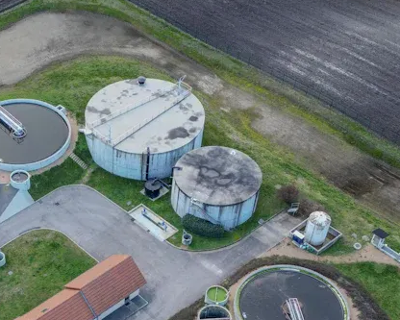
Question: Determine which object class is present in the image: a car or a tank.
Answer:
tank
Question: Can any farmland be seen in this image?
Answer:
Yes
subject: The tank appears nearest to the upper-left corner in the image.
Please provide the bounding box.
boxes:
[0,99,71,171]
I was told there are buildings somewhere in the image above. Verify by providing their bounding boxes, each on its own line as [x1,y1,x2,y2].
[12,255,150,320]
[372,230,390,250]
